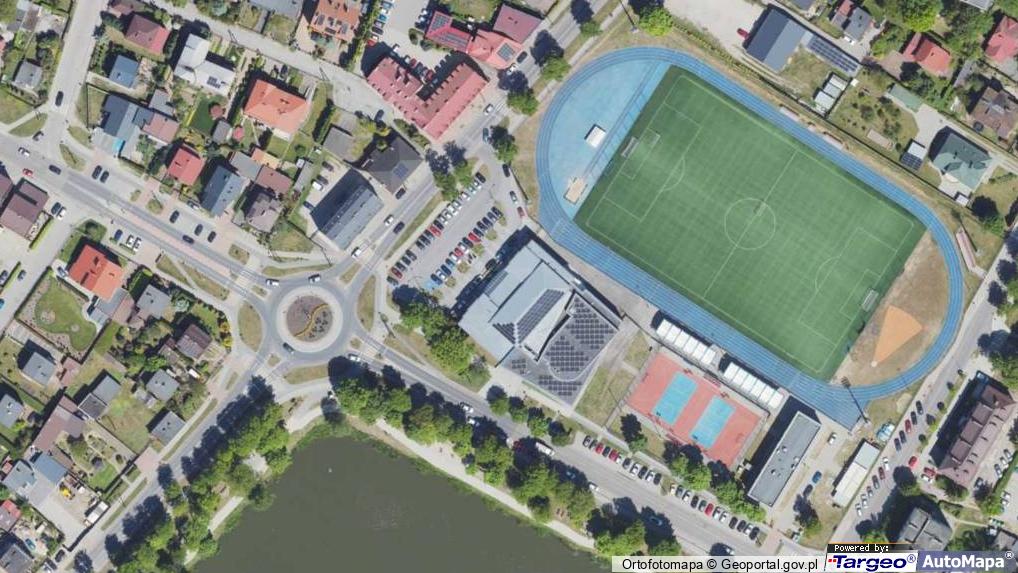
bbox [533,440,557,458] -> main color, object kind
white vehicle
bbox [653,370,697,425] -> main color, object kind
blue basketball court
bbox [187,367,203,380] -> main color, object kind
white vehicle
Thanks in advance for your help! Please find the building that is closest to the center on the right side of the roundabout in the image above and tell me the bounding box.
[459,240,623,407]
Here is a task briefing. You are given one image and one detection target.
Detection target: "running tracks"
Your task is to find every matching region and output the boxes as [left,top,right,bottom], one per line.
[535,46,961,431]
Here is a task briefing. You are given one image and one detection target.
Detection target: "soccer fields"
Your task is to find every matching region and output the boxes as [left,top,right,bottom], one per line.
[573,65,927,381]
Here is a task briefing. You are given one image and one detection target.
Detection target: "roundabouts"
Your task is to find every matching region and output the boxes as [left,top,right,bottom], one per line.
[261,271,356,365]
